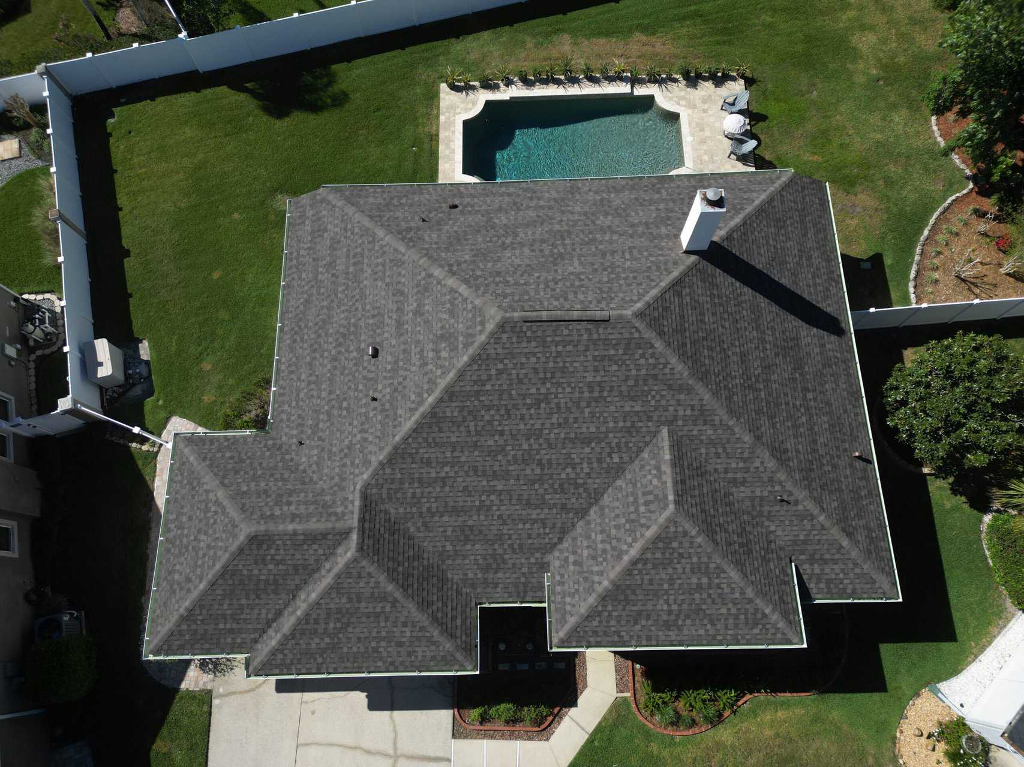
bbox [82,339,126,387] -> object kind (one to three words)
shed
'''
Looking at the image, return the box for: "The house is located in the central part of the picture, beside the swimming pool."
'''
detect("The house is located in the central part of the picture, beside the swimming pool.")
[144,171,901,679]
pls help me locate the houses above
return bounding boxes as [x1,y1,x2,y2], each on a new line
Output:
[0,284,44,767]
[966,644,1024,767]
[144,171,901,679]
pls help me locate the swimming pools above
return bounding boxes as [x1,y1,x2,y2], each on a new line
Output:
[455,87,693,182]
